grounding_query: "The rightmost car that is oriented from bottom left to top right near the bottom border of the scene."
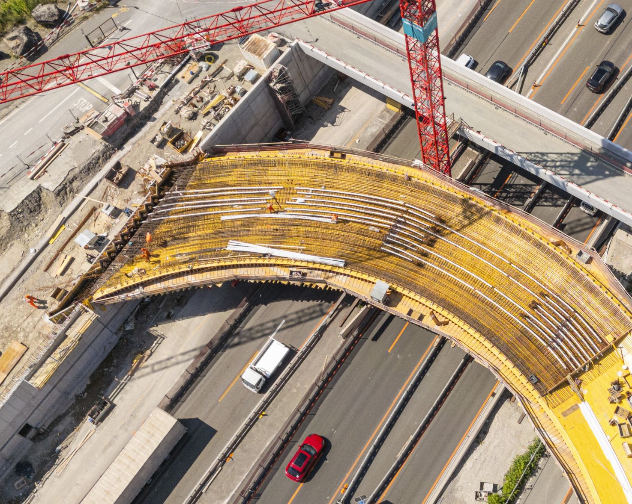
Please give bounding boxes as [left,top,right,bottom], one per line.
[285,432,326,486]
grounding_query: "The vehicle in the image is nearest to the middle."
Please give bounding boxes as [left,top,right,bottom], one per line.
[231,318,290,408]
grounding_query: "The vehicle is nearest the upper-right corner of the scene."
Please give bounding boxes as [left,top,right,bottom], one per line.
[595,2,625,35]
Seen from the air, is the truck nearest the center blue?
No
